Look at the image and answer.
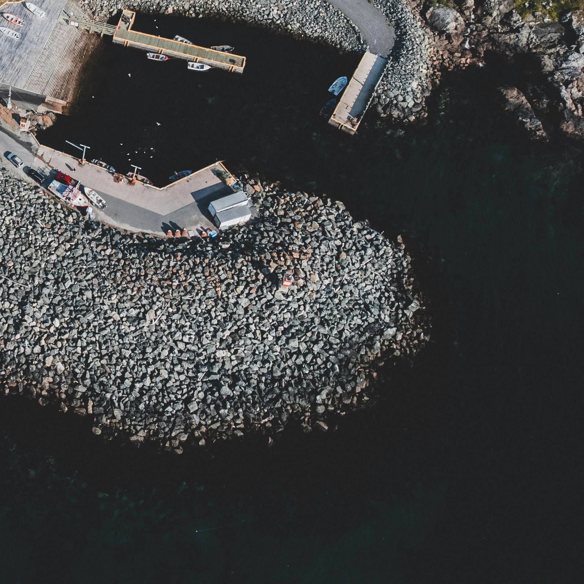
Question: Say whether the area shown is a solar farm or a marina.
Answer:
marina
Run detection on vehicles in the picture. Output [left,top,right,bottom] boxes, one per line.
[55,170,82,187]
[25,165,47,182]
[5,149,26,167]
